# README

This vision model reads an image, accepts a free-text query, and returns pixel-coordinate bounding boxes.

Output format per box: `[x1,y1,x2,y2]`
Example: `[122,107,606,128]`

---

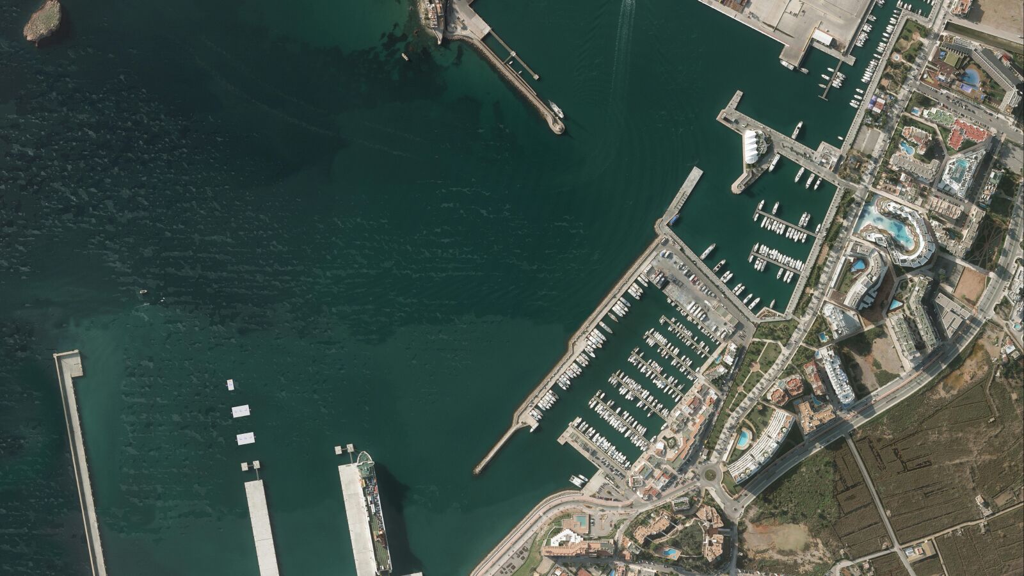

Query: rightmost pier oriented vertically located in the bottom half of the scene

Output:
[339,452,376,576]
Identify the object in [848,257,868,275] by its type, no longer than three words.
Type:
swimming pool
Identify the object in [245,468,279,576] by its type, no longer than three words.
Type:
pier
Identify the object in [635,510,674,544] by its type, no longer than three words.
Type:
building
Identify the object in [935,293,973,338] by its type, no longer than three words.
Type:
building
